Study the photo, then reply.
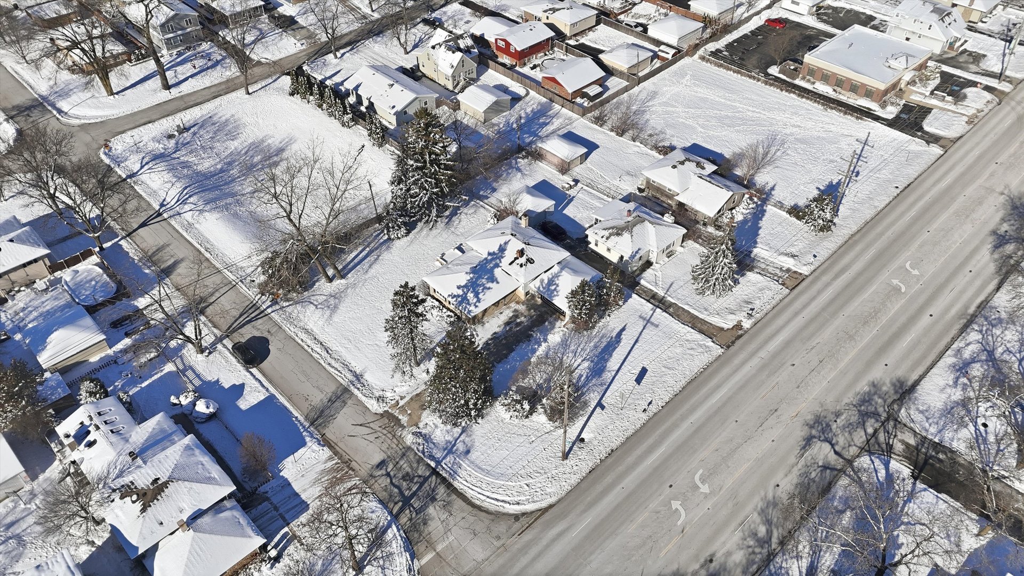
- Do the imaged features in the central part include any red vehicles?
No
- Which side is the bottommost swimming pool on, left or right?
left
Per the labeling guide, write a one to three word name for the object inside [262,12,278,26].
car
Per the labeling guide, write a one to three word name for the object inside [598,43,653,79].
building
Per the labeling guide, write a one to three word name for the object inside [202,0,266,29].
house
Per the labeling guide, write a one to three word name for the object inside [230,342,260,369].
car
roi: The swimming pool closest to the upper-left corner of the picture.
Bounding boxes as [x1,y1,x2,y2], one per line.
[56,266,122,309]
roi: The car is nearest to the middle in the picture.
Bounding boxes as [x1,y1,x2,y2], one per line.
[538,219,568,243]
